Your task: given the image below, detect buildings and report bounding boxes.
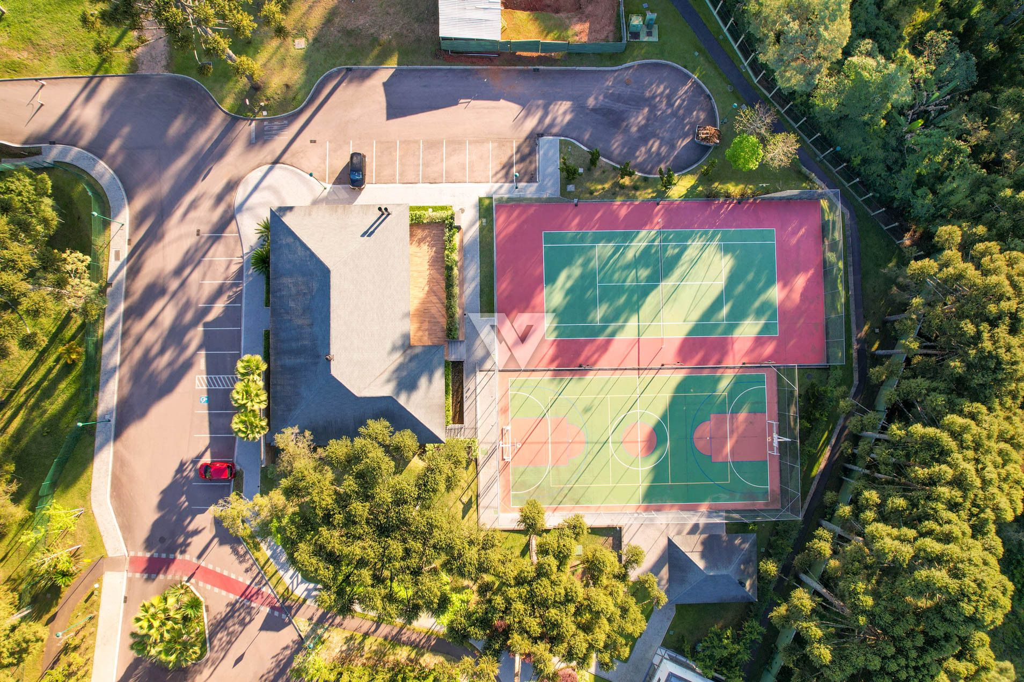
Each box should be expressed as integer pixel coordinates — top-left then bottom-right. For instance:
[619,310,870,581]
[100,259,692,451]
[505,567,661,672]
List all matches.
[269,203,446,448]
[664,530,759,605]
[636,641,748,682]
[438,0,503,43]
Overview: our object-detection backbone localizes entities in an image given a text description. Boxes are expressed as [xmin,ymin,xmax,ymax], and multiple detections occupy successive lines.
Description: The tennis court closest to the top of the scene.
[495,199,825,369]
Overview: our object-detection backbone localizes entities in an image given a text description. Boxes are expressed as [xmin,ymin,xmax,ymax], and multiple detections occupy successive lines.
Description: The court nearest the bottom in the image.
[499,368,780,513]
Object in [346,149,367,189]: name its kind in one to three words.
car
